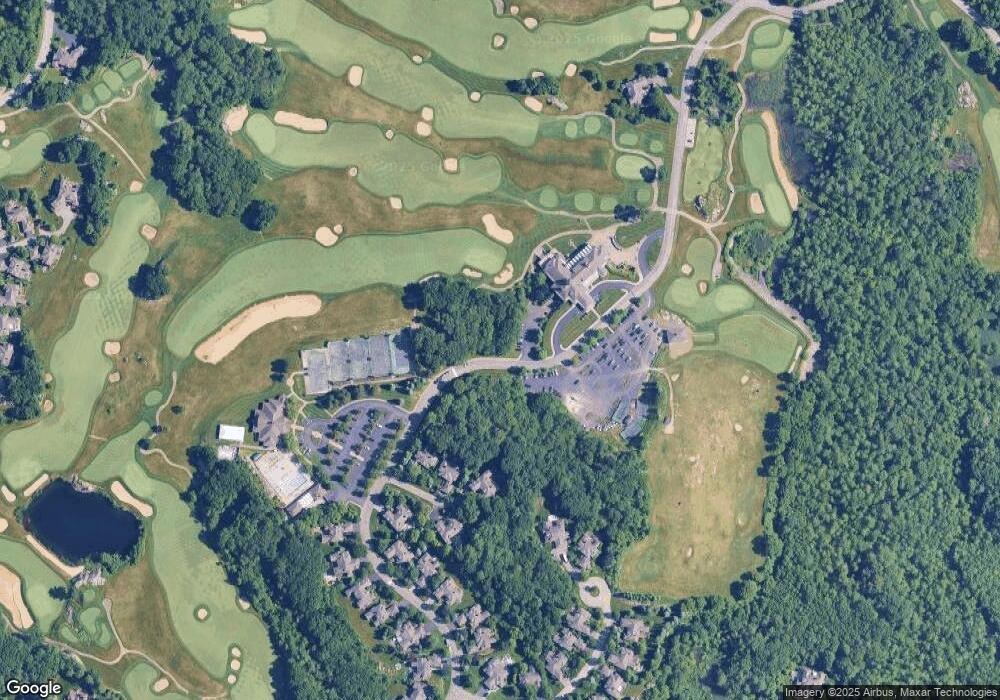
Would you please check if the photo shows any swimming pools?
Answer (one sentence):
Yes, a swimming pool appears in the view.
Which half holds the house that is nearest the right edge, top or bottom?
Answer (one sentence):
Seen from above, the house that is nearest the right edge lies in the bottom half of the view.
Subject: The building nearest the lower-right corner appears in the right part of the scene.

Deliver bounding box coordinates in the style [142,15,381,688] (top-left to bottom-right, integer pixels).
[798,668,827,691]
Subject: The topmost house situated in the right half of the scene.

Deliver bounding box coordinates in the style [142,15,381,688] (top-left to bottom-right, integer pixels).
[628,64,664,114]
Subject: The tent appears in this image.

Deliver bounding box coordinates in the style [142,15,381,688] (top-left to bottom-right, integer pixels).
[218,425,244,441]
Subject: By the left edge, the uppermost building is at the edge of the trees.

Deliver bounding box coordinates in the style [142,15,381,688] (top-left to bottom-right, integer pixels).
[49,44,83,71]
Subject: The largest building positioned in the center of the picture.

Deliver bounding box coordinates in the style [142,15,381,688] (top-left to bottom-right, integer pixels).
[532,244,606,316]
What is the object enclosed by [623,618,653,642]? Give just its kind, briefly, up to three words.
house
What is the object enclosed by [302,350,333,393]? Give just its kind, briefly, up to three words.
tennis court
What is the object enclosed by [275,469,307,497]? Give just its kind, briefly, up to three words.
swimming pool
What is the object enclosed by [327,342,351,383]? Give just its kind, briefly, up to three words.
tennis court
